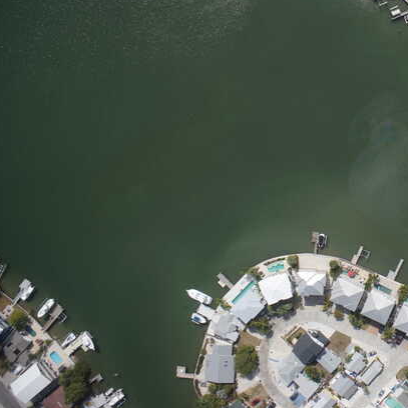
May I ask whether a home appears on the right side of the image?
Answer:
Yes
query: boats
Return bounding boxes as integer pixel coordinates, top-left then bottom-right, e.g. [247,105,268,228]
[62,333,77,346]
[106,393,123,408]
[189,311,207,324]
[103,389,115,400]
[186,290,214,305]
[24,281,36,298]
[316,234,325,250]
[82,331,95,350]
[39,298,56,317]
